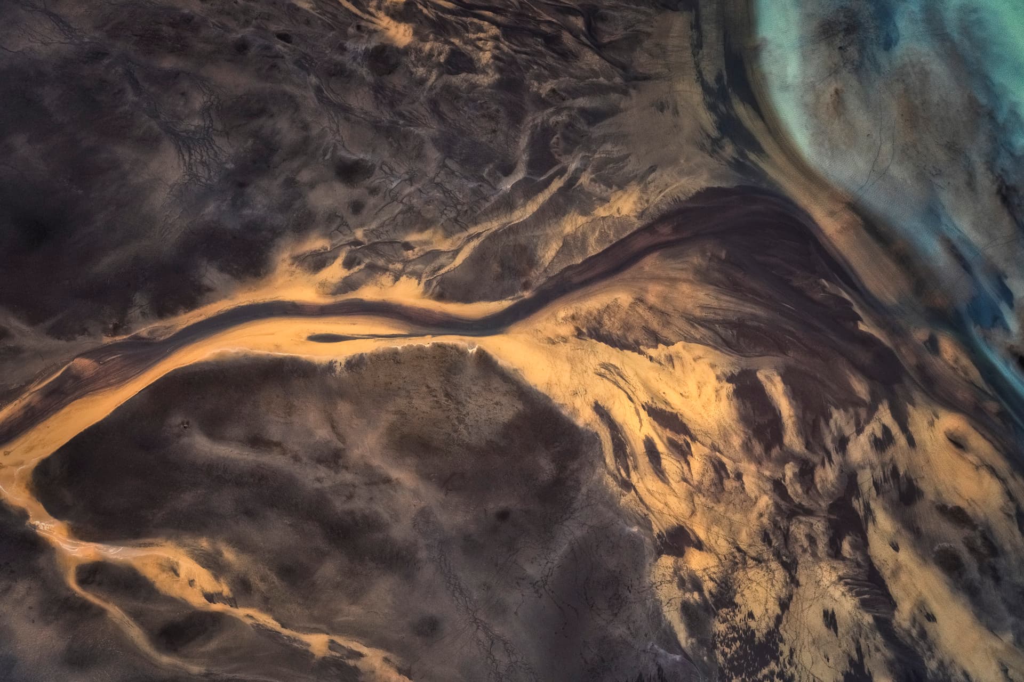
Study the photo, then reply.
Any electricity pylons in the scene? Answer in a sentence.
No, there is no electricity pylon in the image.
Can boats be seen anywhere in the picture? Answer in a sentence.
No, there isn't any boat down there.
